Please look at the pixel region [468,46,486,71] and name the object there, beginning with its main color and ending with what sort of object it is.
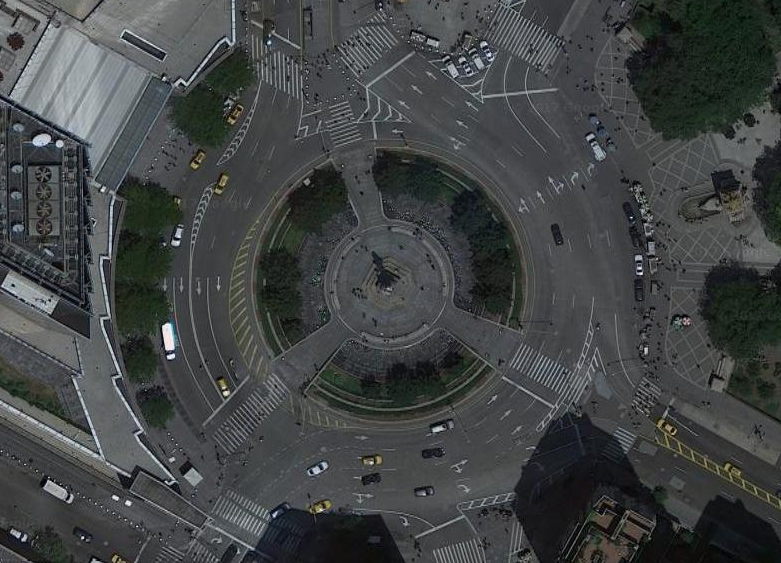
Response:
white vehicle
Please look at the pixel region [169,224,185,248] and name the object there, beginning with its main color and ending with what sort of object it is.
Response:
white car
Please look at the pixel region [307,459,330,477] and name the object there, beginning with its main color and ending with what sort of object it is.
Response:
white car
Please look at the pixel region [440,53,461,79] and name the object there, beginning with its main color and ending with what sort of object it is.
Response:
white vehicle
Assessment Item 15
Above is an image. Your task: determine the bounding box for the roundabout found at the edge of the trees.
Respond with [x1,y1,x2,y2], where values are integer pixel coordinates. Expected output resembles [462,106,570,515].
[182,77,599,493]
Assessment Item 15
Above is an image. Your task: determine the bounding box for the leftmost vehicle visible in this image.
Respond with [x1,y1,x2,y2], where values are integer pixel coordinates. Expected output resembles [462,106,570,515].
[7,526,30,545]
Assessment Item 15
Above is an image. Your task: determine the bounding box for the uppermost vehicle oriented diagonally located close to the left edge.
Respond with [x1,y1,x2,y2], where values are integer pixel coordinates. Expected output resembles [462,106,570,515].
[37,474,76,507]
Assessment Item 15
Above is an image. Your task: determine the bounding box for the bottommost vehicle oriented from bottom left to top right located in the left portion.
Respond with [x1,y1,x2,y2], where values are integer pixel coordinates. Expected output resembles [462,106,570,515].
[219,540,241,563]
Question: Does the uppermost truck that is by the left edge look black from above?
No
